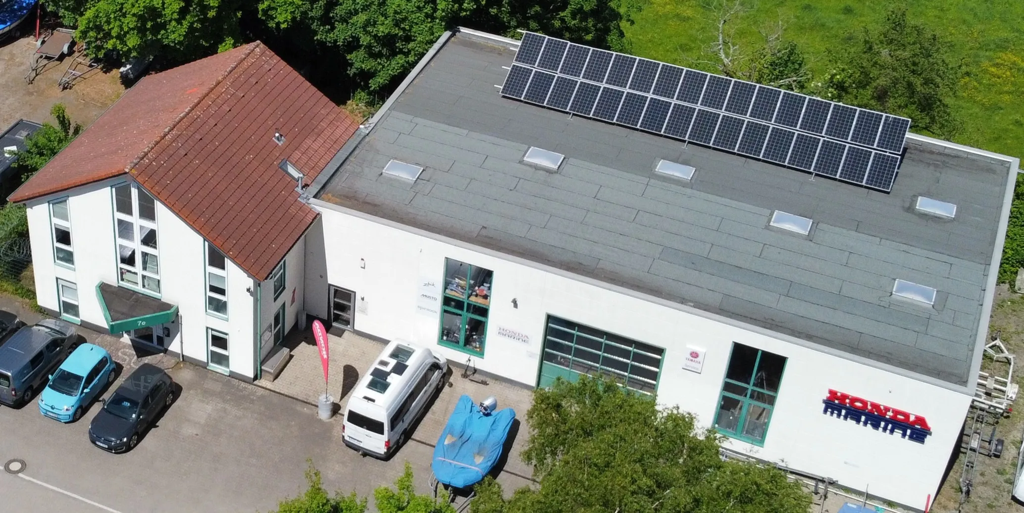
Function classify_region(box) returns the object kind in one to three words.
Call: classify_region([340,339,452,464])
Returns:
van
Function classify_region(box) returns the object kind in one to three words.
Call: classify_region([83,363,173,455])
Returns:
car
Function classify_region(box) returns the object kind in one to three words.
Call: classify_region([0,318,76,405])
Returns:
van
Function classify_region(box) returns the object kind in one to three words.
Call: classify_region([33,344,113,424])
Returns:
car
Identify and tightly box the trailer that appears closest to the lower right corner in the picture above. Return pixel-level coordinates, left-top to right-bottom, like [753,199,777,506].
[951,401,1011,499]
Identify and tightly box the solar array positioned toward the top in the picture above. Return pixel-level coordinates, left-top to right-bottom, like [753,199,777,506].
[489,34,910,196]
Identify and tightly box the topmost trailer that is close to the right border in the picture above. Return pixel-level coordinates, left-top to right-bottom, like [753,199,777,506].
[966,326,1024,428]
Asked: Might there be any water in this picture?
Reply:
No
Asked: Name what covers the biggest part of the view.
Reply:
buildings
